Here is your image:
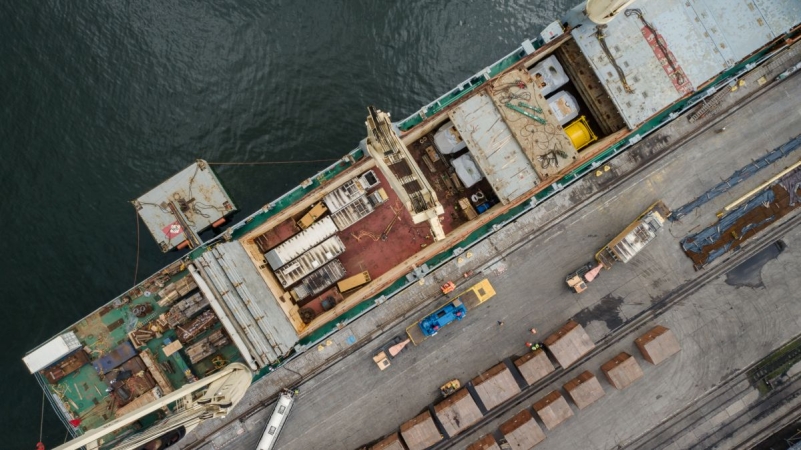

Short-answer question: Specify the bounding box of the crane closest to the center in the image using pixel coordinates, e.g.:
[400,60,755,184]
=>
[364,103,447,240]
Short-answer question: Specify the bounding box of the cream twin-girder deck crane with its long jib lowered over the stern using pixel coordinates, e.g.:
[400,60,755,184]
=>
[48,362,256,450]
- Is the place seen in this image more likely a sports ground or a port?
port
